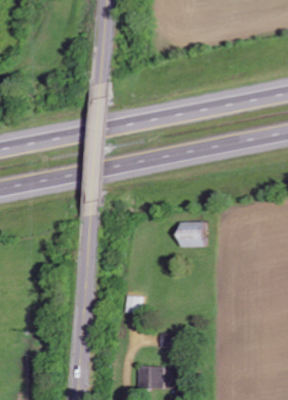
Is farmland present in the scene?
Yes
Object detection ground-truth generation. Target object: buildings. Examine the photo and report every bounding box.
[160,332,176,349]
[126,294,147,315]
[138,365,170,391]
[176,221,208,248]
